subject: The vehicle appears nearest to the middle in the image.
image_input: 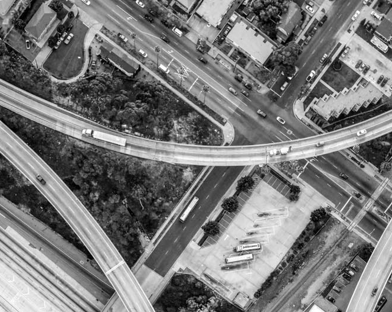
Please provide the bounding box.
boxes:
[180,194,201,221]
